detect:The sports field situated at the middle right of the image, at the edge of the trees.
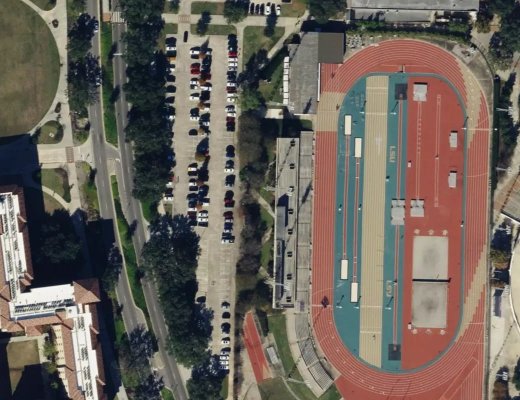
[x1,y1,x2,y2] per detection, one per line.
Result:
[334,64,466,371]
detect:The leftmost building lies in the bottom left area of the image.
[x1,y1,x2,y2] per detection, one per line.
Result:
[0,185,108,400]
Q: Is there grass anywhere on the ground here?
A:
Yes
